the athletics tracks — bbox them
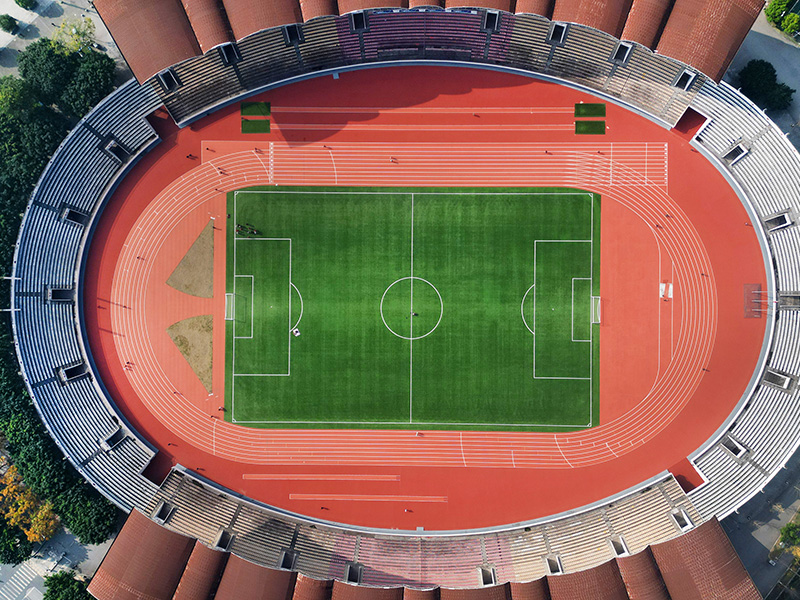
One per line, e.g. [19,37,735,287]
[66,66,800,530]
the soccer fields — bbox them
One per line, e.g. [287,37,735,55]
[225,185,601,433]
